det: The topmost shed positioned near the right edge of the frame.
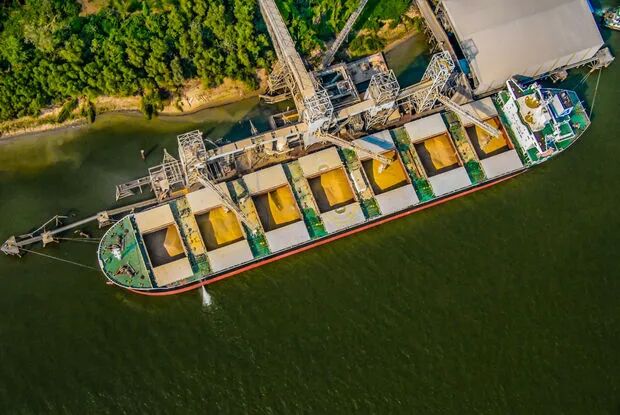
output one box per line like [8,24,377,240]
[435,0,605,95]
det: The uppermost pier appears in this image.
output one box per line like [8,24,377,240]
[287,66,364,115]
